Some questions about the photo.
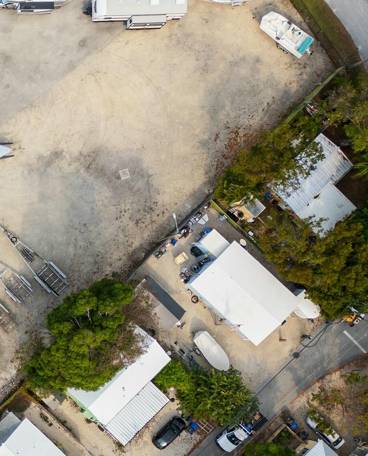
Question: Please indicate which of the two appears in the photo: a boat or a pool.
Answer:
boat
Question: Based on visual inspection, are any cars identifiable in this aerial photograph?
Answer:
Yes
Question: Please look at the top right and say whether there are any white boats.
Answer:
Yes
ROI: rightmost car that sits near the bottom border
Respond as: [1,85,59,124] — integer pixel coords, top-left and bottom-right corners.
[303,414,346,449]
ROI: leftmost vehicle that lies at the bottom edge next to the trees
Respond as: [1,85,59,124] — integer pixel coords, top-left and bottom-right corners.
[150,415,189,449]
